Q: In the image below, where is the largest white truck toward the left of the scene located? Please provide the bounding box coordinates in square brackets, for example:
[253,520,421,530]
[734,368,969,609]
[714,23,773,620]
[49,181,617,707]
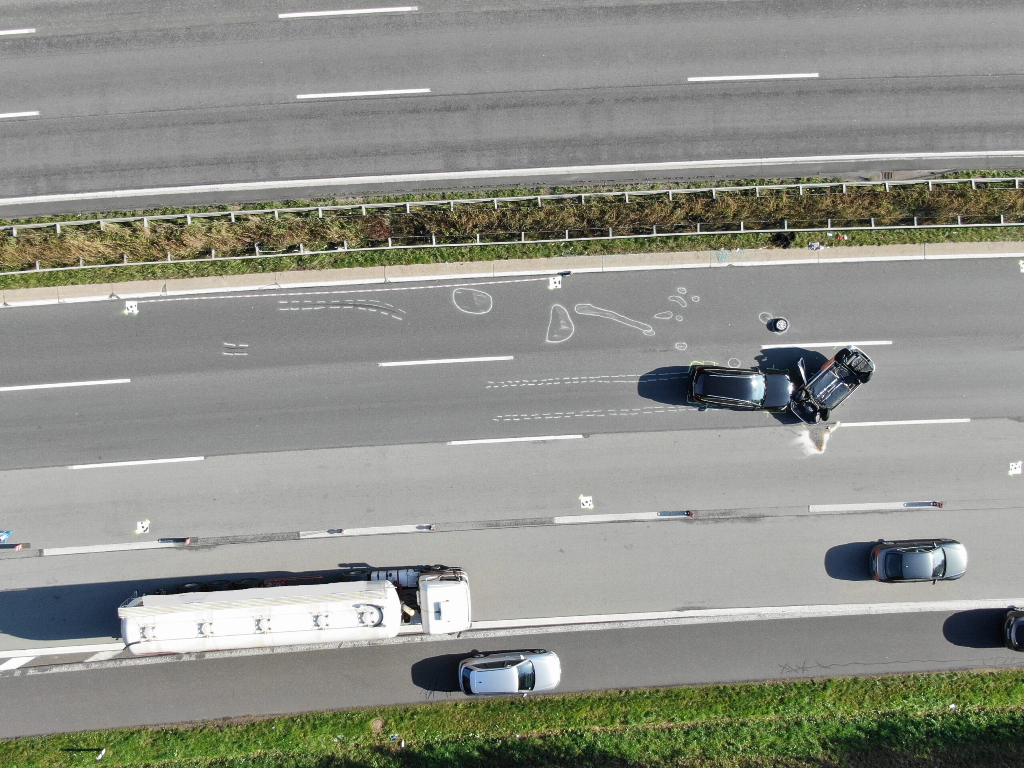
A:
[108,565,475,659]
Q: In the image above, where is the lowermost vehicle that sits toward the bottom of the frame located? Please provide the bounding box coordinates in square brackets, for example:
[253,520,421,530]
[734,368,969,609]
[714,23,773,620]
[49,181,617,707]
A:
[457,650,562,702]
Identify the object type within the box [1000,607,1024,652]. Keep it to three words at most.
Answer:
car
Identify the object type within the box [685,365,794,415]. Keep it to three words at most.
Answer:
car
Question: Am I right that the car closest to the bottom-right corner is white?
No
